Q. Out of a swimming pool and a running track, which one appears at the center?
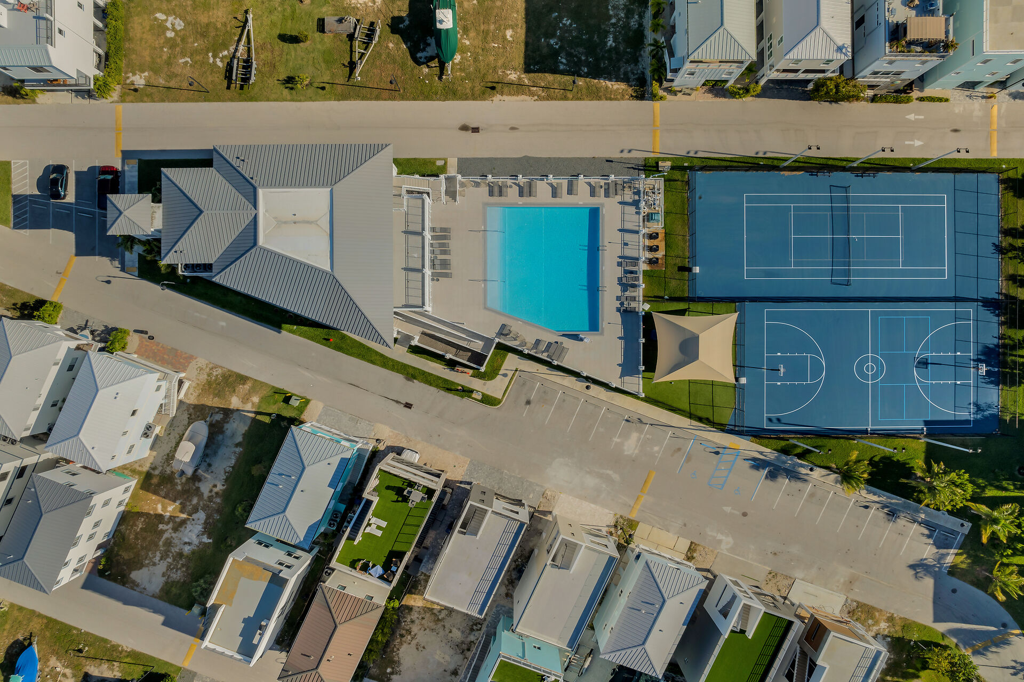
swimming pool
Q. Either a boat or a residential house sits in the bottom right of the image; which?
residential house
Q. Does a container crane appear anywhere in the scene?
No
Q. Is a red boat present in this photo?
No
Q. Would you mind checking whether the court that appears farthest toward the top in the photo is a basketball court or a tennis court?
tennis court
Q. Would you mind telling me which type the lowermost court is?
basketball court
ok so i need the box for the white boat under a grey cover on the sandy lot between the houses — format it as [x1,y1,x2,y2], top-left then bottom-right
[155,422,204,486]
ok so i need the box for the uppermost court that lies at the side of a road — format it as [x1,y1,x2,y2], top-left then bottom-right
[689,171,1000,299]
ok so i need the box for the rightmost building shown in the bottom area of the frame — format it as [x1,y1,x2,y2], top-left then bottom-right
[768,587,891,682]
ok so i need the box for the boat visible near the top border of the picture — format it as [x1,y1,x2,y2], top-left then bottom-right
[432,0,458,63]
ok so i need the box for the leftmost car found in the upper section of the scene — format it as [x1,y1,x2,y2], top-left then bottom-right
[45,163,67,199]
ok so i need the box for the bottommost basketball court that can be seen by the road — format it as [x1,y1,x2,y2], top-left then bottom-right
[726,302,1000,441]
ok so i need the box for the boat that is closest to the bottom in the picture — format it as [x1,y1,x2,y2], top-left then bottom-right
[10,640,39,682]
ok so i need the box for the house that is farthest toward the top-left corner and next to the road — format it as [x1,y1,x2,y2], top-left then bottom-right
[0,0,114,94]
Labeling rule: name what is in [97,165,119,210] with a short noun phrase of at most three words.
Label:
truck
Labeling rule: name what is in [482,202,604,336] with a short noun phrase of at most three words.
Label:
swimming pool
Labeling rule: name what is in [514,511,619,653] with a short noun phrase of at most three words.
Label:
house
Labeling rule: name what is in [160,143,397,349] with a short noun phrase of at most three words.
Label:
building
